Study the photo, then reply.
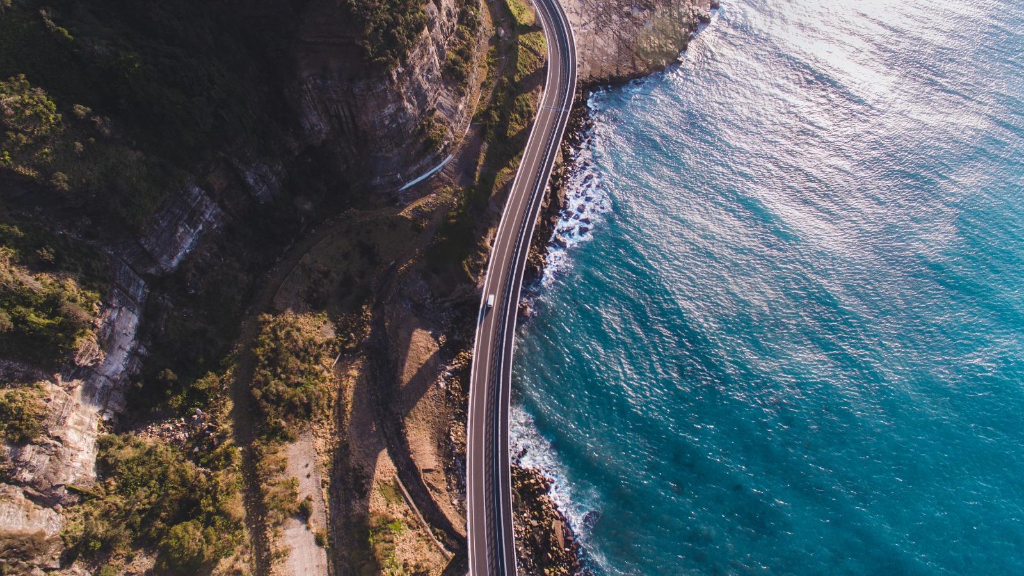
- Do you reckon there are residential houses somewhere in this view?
No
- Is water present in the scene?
Yes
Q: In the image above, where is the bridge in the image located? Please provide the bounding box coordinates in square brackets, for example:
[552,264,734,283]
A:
[467,0,578,576]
